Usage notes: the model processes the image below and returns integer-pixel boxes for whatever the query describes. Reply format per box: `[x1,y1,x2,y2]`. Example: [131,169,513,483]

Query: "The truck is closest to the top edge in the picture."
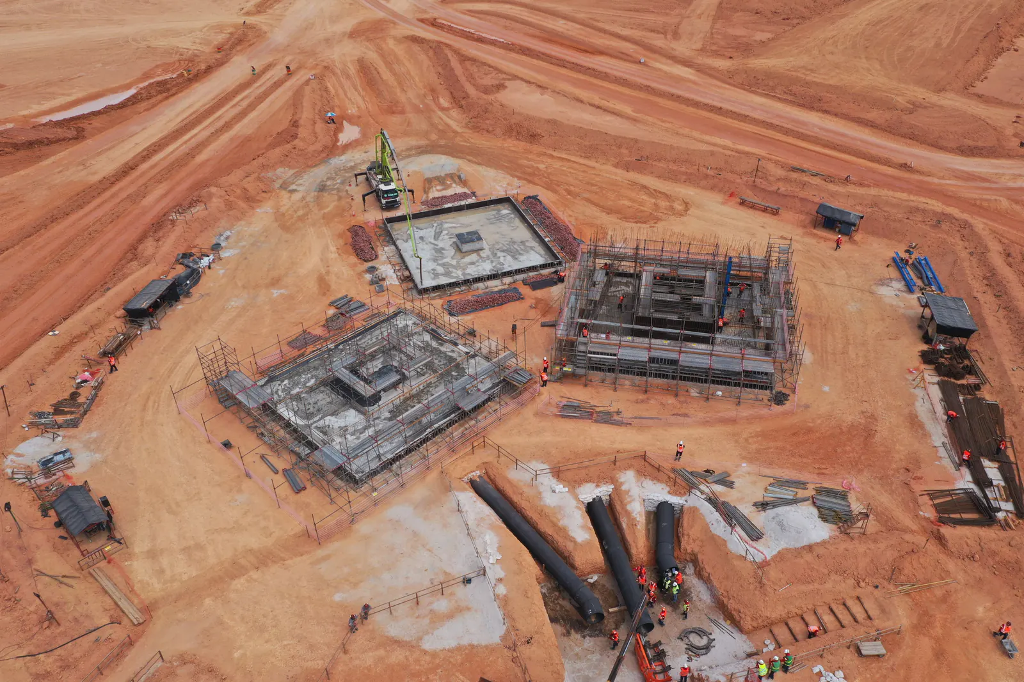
[354,126,426,289]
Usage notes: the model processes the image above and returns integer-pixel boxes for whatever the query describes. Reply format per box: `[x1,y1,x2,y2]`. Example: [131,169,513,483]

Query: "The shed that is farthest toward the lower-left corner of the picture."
[51,486,118,558]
